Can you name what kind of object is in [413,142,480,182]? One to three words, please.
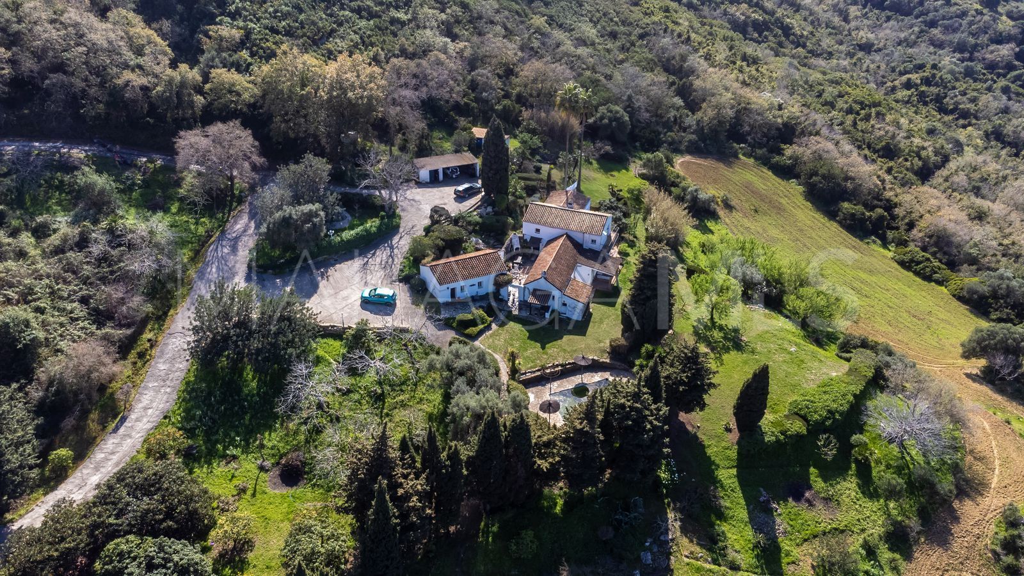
building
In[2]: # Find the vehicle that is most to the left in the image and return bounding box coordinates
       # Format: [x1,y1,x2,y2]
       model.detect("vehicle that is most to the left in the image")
[360,284,397,302]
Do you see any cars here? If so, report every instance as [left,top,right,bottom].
[452,180,483,195]
[360,284,397,302]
